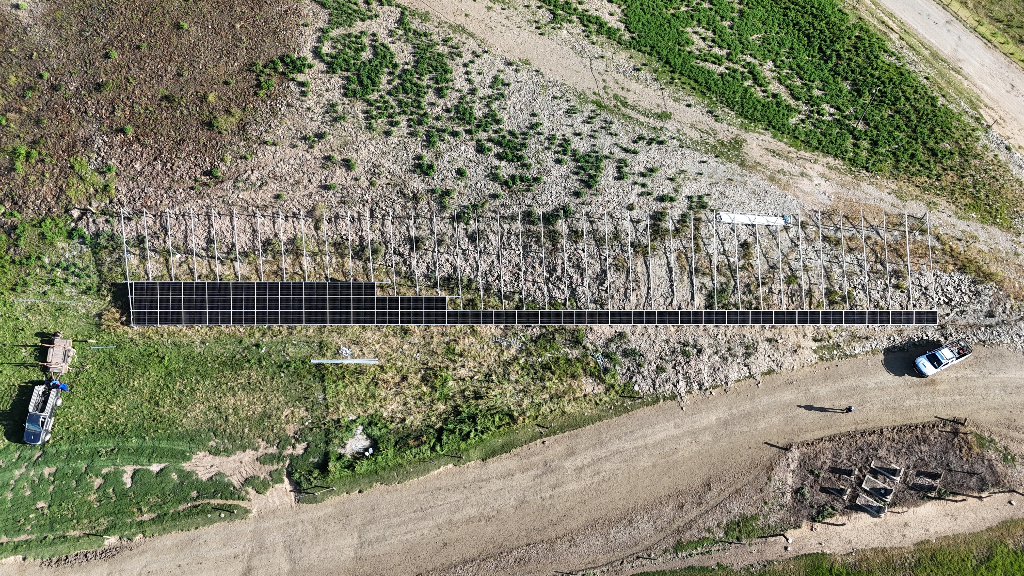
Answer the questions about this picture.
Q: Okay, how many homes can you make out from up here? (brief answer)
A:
zero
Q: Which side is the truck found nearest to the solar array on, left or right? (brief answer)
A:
right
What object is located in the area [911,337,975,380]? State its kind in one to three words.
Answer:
truck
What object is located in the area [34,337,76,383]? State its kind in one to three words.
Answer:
trailer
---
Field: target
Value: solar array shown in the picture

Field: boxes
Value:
[121,208,938,328]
